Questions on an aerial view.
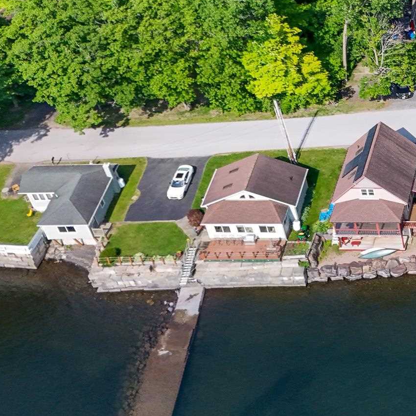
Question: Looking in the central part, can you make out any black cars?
No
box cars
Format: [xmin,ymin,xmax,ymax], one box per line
[394,71,412,94]
[165,164,192,198]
